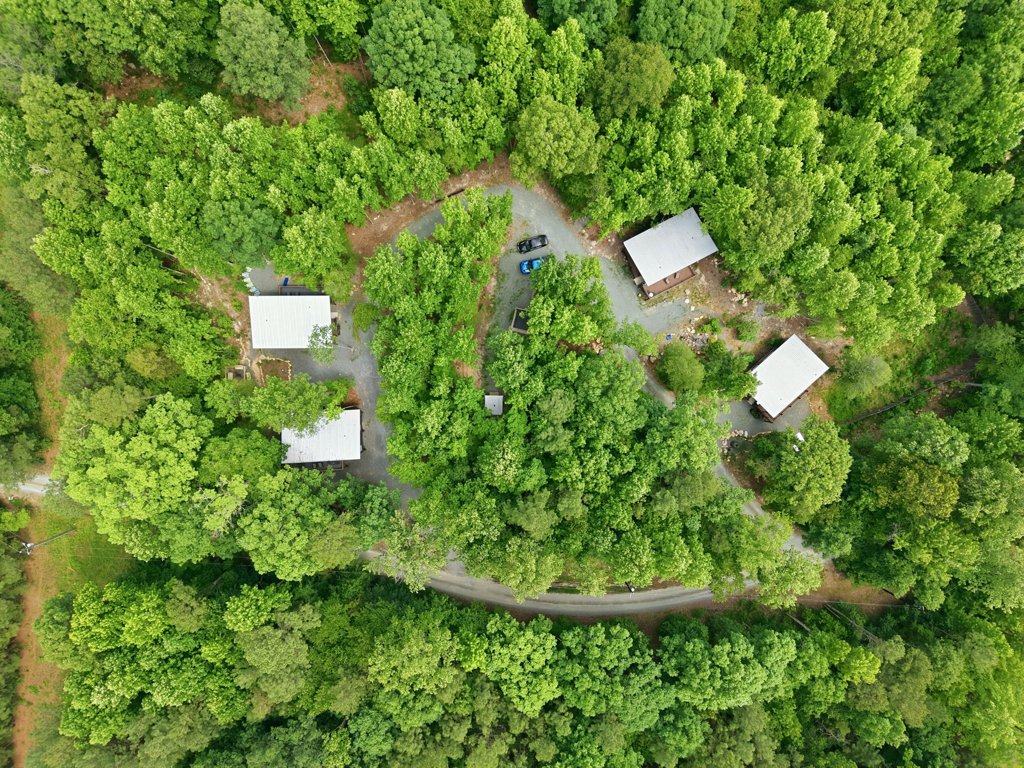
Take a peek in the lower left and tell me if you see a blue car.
No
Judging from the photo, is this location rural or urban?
rural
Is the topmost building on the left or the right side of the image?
right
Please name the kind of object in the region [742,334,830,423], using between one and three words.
building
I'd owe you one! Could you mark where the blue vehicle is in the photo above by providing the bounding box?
[519,255,549,273]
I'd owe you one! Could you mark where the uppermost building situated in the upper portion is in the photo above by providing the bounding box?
[624,210,718,300]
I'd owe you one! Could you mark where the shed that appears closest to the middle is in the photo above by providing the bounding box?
[484,392,503,415]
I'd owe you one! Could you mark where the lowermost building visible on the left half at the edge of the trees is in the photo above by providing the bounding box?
[281,410,367,470]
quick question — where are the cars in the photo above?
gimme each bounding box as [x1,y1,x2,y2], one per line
[519,255,549,273]
[516,234,550,255]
